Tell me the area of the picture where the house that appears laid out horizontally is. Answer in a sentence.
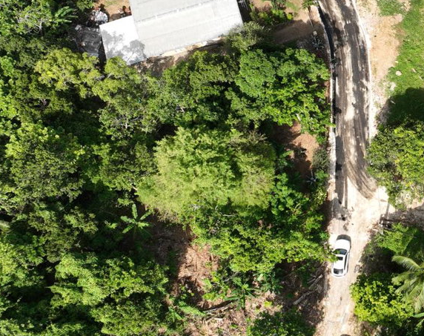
The house that appears laid out horizontally appears toward the top of the photo.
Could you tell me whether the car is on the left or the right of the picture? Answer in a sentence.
The car is on the right side of the image.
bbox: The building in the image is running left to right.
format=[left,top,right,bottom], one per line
[95,0,248,68]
